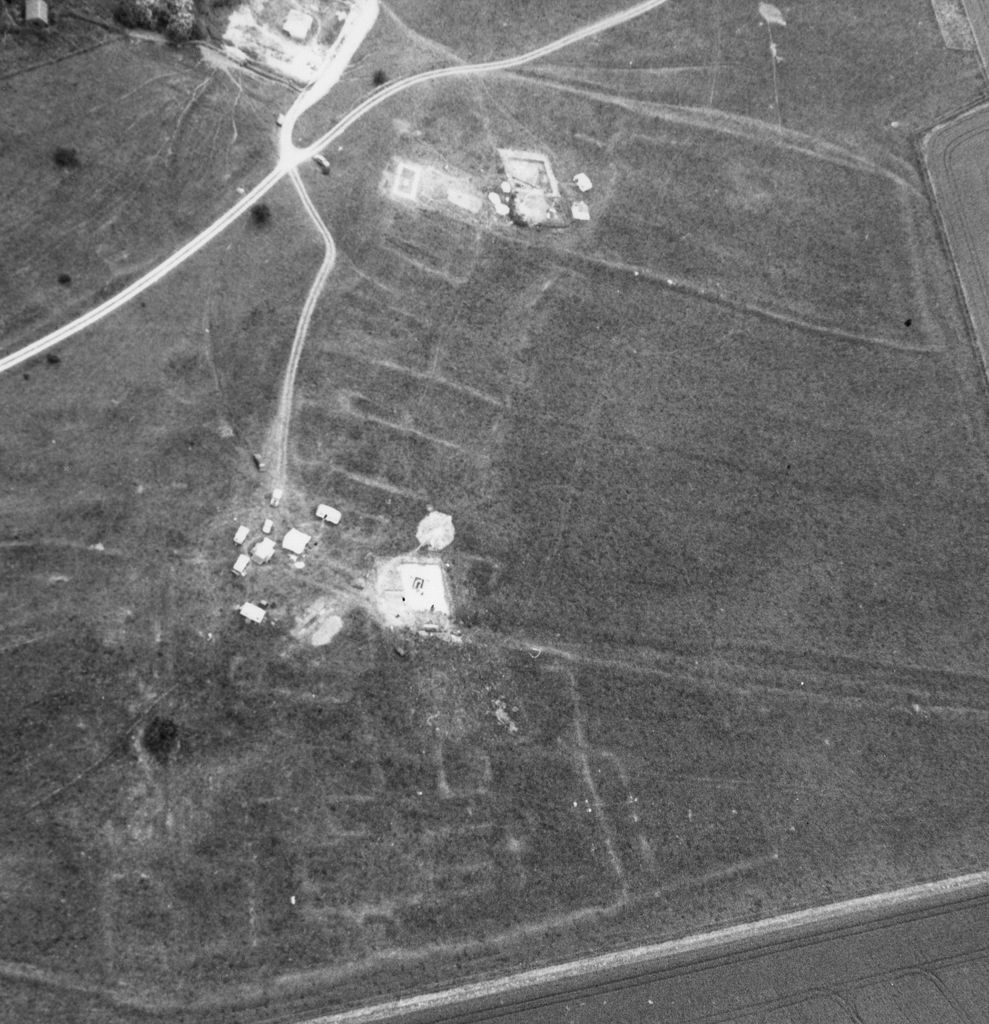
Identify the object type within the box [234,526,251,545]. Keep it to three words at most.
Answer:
camper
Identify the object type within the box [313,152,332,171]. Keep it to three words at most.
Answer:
car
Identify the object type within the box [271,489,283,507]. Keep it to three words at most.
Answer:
vehicle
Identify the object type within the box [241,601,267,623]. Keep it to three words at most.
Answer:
building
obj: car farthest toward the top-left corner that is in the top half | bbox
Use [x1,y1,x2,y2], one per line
[276,112,289,127]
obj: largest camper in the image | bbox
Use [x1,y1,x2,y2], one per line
[316,504,343,524]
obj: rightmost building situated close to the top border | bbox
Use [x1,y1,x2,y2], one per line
[283,10,313,41]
